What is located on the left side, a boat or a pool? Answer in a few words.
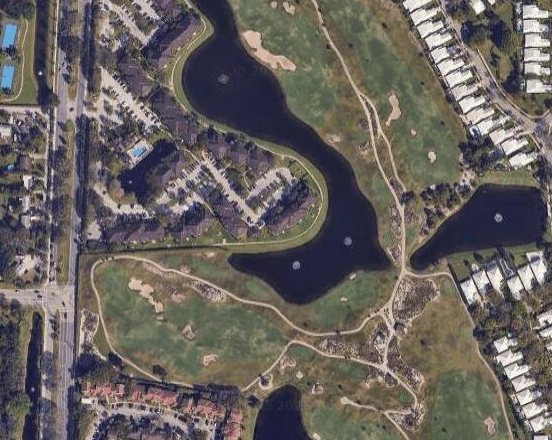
pool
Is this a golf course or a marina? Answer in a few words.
golf course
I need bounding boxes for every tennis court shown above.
[0,61,18,94]
[0,20,19,50]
